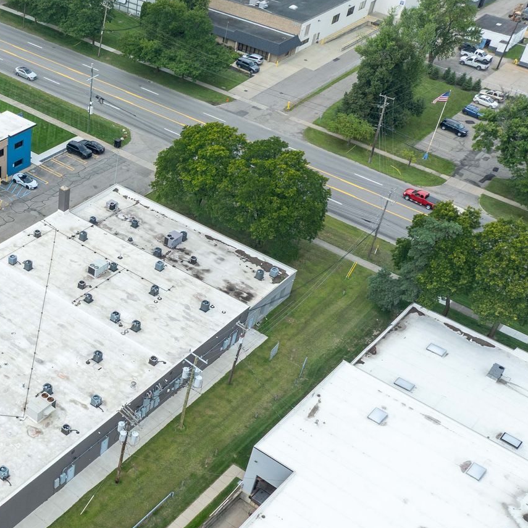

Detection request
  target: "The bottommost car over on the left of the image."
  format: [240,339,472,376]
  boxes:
[12,174,38,190]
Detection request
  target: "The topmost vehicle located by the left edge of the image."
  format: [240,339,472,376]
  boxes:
[14,66,38,80]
